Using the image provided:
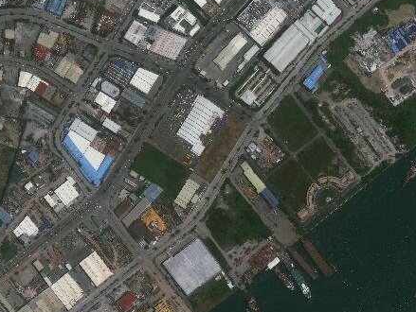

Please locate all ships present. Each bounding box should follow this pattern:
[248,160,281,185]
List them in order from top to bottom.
[400,163,416,187]
[301,240,335,276]
[288,249,316,280]
[274,266,294,292]
[291,268,311,300]
[248,294,261,312]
